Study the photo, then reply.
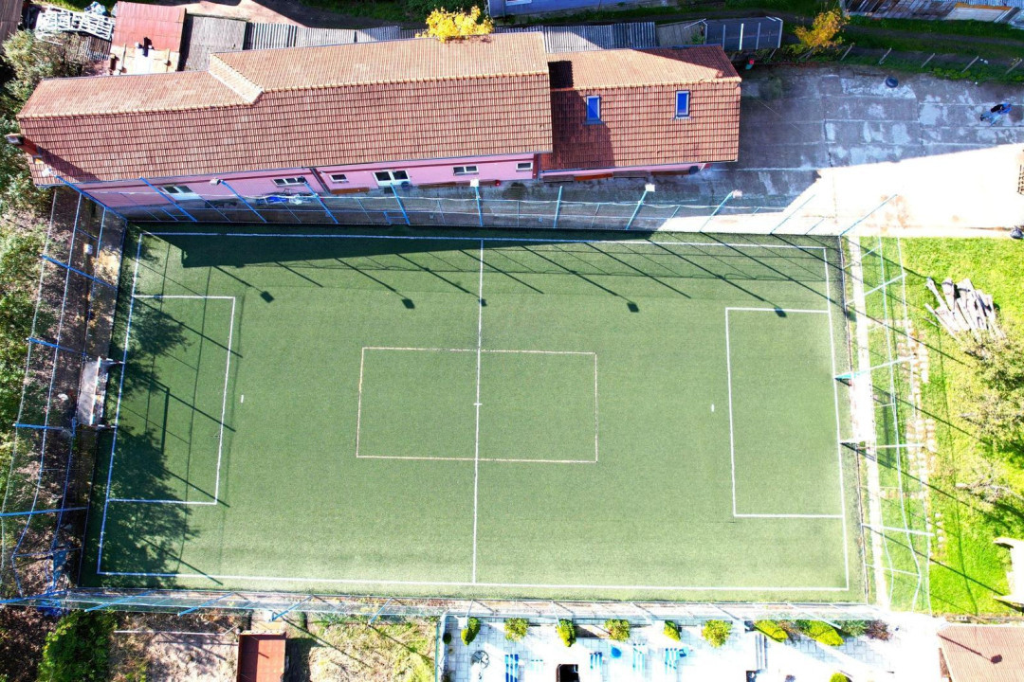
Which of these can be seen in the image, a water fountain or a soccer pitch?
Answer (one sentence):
There is a soccer pitch in the scene.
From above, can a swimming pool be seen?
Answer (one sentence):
No, no swimming pool is visible in the view.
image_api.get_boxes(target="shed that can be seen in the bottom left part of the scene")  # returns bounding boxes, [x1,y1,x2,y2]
[233,629,291,682]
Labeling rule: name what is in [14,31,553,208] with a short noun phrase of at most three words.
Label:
house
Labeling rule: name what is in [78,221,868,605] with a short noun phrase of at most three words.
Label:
soccer field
